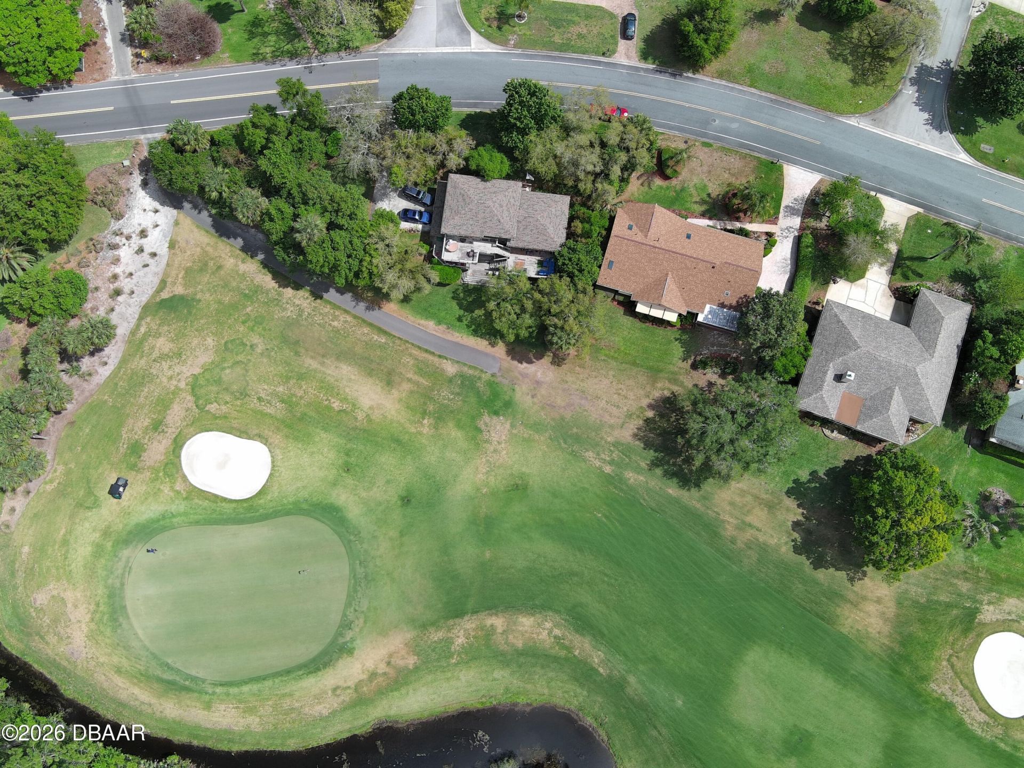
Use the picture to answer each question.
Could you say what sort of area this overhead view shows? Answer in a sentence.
The picture captures a golf course.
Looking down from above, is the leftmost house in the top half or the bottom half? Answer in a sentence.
The leftmost house sits in the top half of the picture.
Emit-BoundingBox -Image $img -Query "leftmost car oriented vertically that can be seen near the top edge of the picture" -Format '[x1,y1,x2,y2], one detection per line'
[623,13,636,41]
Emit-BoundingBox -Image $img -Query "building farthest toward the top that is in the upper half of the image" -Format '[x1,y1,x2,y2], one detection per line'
[430,174,570,253]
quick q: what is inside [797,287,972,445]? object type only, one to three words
house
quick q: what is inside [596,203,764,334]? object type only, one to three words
house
